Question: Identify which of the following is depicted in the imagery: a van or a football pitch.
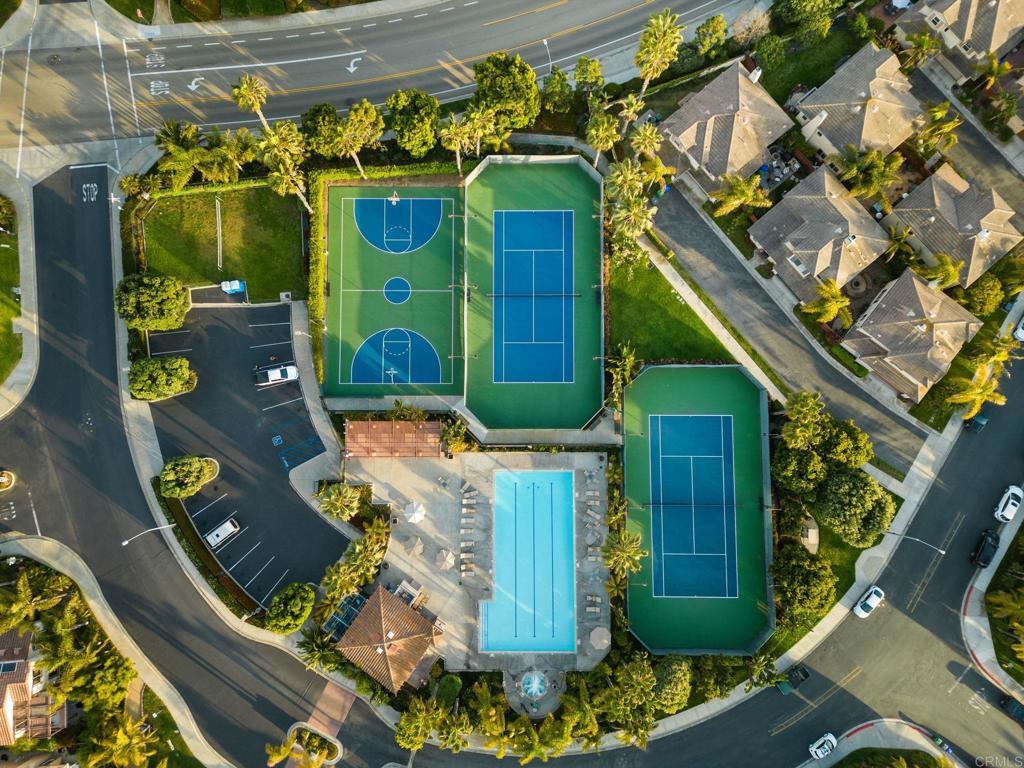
van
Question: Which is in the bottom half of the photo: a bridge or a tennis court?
tennis court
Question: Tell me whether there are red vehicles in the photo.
No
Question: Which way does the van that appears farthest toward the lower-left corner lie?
on a diagonal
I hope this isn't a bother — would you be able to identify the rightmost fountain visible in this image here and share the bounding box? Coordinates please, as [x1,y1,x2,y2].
[847,274,867,293]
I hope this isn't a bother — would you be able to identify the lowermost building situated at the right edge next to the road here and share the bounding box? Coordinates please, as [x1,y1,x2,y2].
[837,267,984,401]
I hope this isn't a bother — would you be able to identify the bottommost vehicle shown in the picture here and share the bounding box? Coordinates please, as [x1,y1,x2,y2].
[808,733,841,763]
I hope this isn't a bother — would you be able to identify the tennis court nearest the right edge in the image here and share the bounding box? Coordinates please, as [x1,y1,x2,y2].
[622,365,776,656]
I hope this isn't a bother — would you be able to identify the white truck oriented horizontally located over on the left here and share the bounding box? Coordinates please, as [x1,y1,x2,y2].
[251,365,296,387]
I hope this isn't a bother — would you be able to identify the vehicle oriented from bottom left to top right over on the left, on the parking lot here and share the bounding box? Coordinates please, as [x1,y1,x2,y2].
[198,517,240,551]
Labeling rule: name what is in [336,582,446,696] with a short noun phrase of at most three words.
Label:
building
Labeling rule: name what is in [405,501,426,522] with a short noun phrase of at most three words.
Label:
umbrella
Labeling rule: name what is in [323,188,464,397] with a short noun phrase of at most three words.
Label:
basketball court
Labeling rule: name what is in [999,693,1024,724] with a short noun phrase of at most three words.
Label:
car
